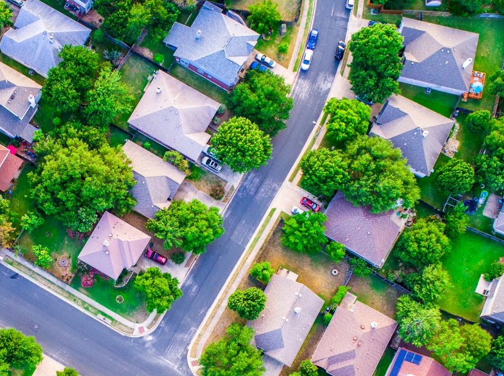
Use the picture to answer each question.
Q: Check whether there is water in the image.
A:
No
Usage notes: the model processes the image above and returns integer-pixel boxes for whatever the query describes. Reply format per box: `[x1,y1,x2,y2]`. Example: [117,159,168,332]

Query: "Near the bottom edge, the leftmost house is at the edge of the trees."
[248,275,325,368]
